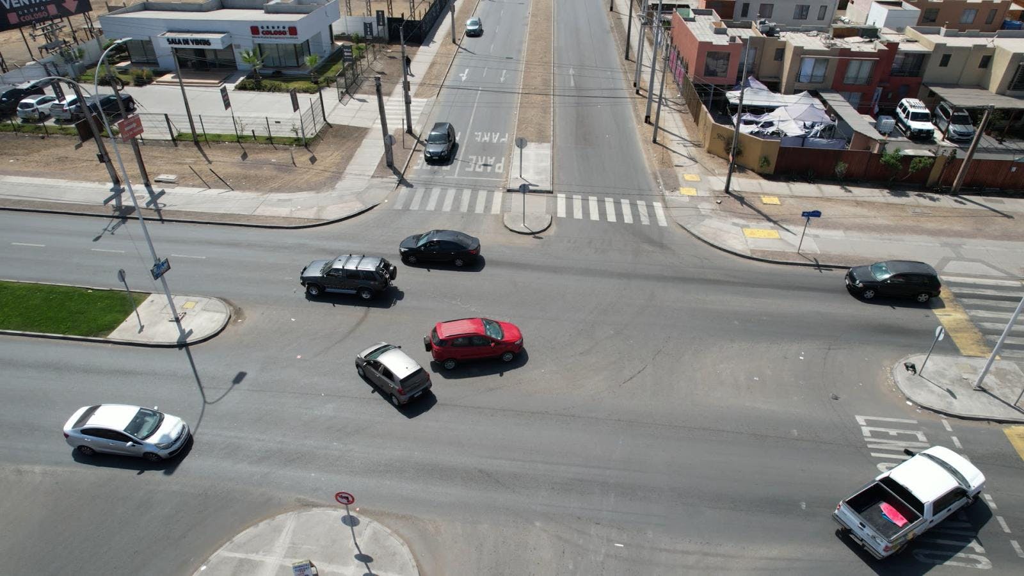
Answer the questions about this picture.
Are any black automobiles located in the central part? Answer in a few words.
Yes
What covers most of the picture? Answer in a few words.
paved ground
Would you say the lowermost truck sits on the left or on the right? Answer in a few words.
right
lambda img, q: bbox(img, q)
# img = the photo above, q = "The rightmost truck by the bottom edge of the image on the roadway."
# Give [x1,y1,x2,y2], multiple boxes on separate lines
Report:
[823,447,983,562]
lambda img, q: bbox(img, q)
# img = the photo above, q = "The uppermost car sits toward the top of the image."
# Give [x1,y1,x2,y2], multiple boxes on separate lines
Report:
[464,14,483,34]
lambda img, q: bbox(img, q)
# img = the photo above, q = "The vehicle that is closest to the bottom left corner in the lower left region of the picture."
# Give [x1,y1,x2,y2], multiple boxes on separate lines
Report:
[60,401,189,462]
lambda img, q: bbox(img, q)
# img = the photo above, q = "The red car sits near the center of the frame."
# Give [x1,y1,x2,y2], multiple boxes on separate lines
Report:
[423,314,522,370]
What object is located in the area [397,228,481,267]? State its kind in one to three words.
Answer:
car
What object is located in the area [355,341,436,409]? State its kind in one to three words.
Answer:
car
